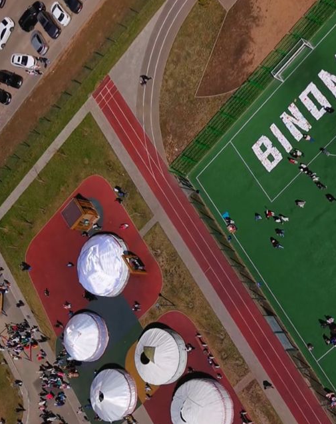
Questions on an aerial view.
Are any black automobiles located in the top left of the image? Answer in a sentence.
Yes, a black automobile shows up in the top left of the image.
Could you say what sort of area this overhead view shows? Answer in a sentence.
The picture captures a sports ground.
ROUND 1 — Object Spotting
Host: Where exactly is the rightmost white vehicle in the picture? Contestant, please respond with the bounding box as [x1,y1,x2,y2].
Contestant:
[50,0,72,28]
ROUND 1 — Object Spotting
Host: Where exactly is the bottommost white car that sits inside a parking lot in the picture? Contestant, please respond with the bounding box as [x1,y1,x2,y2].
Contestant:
[11,53,35,70]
